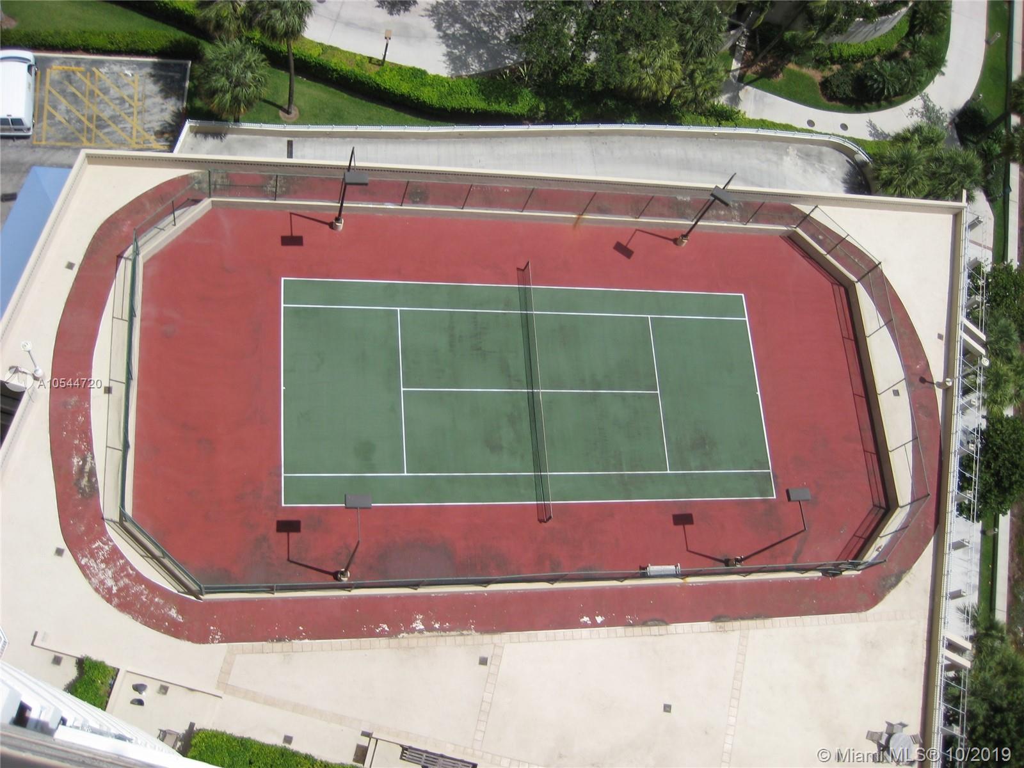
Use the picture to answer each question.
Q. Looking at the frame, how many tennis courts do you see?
1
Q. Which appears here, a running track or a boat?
running track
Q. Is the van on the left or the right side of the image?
left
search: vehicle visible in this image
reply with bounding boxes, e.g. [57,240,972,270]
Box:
[0,48,39,140]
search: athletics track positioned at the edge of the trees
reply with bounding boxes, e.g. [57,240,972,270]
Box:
[50,170,942,642]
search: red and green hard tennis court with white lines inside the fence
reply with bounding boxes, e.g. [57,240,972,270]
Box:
[134,208,889,592]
